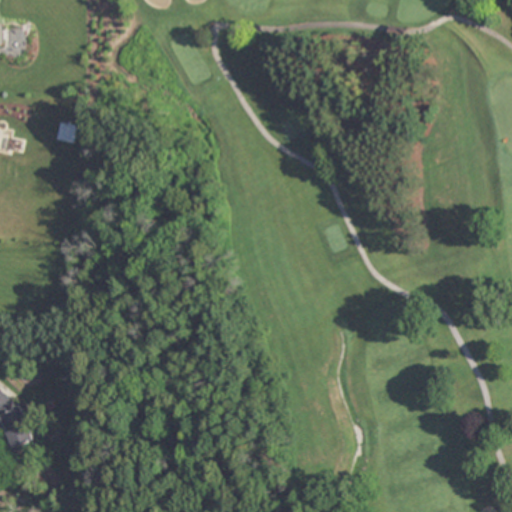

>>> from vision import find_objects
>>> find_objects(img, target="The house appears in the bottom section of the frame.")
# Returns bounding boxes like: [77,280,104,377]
[4,432,32,450]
